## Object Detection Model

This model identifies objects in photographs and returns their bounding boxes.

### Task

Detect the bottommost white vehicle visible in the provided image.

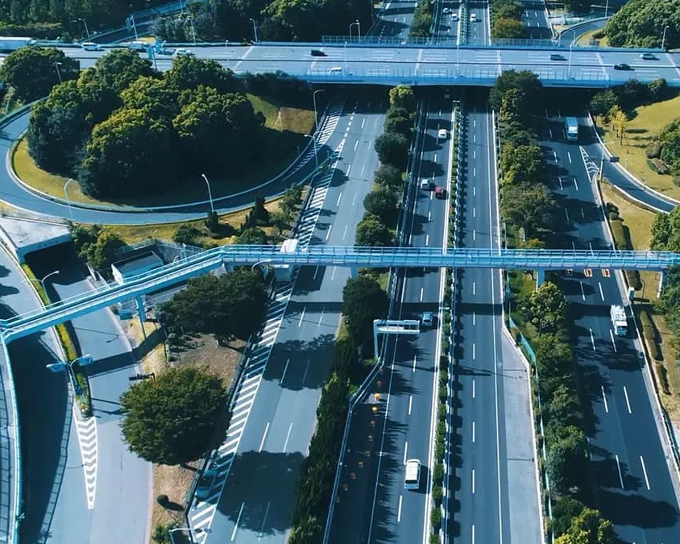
[403,464,420,492]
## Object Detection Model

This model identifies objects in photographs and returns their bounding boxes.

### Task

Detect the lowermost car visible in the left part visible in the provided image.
[195,470,216,498]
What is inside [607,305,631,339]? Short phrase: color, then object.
white truck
